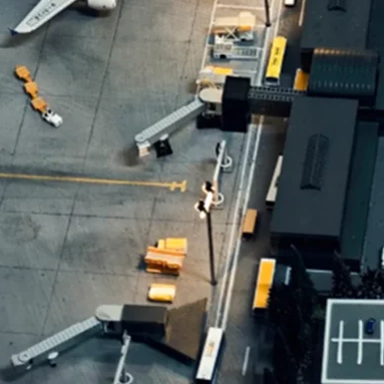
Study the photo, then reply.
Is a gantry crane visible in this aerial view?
No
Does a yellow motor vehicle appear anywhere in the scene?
Yes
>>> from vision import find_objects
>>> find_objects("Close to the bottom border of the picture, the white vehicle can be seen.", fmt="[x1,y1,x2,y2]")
[197,329,225,384]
